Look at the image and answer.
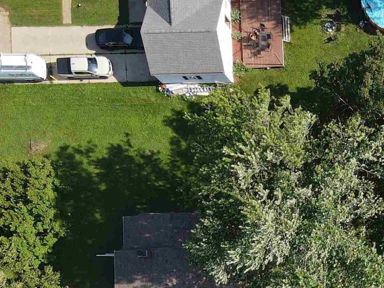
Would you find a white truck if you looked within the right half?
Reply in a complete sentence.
No, there is no white truck within the right half.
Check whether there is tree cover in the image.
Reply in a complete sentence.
Yes, tree cover can be seen from above here.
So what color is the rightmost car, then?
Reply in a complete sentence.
In this view, the rightmost car is black.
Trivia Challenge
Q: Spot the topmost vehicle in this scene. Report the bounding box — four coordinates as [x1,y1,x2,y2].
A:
[98,24,145,50]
